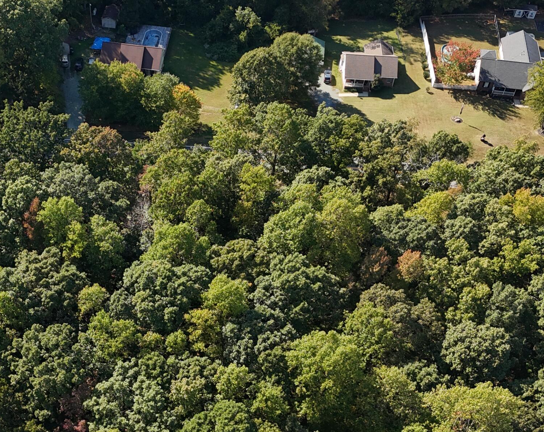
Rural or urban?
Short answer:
rural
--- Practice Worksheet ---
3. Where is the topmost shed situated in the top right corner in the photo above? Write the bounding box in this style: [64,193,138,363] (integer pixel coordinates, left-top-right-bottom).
[503,4,538,19]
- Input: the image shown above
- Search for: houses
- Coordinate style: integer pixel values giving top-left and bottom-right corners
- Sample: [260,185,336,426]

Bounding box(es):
[337,43,398,93]
[97,40,169,79]
[473,30,544,104]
